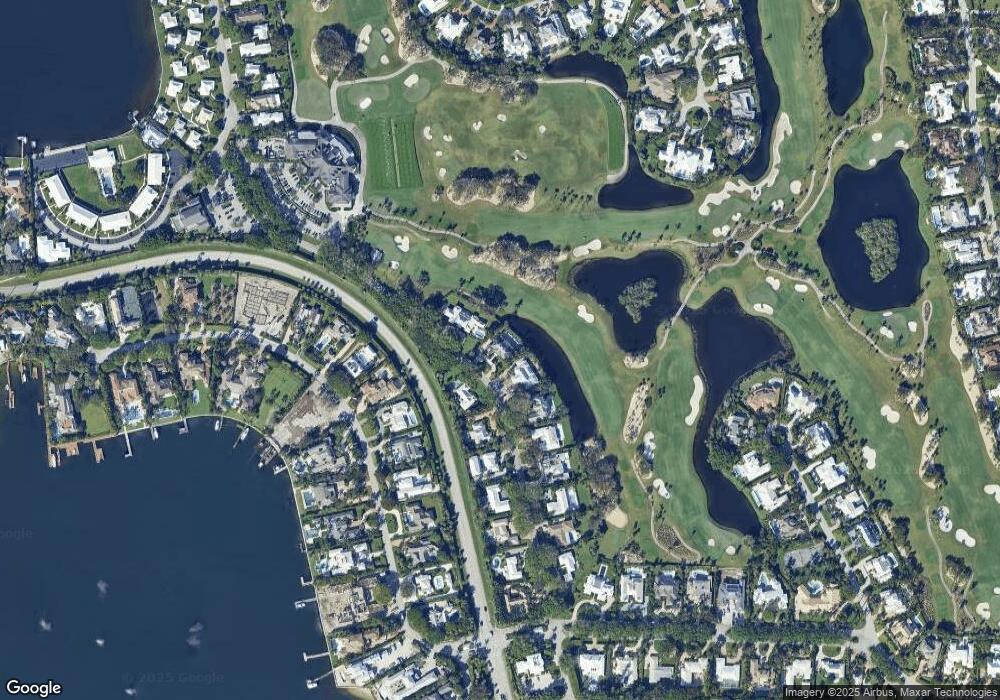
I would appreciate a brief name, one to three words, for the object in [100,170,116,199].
swimming pool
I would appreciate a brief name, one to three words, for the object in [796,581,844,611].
house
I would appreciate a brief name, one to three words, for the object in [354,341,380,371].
house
